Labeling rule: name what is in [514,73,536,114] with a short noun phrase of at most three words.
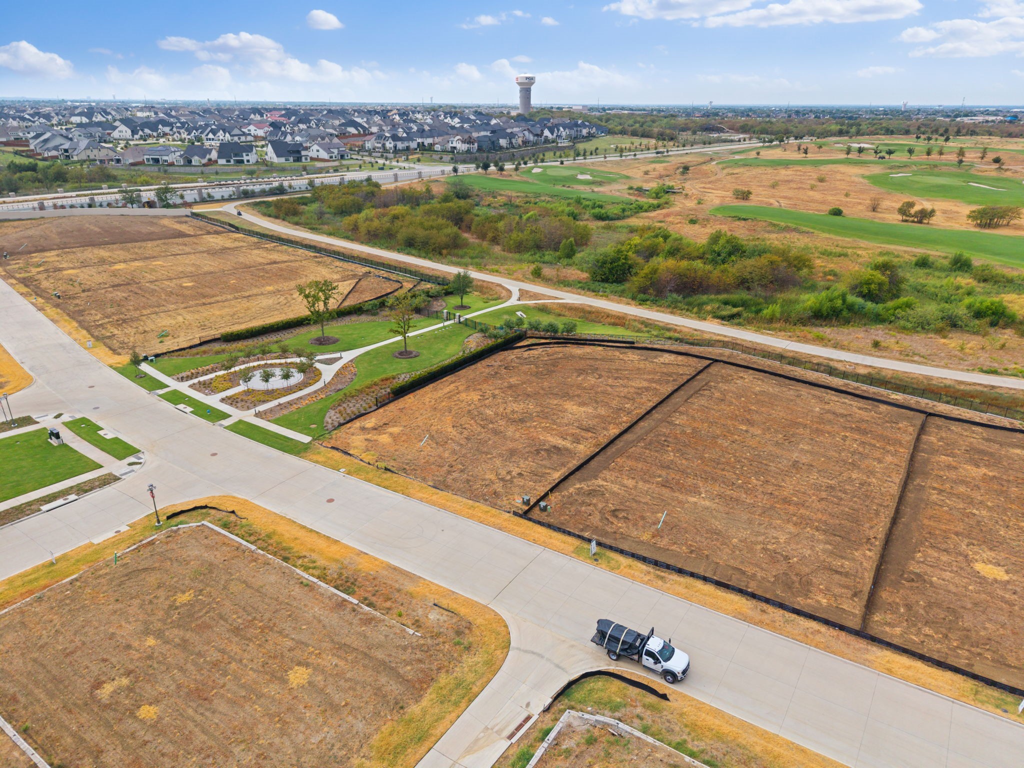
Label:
water tower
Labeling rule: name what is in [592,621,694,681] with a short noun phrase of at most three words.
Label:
truck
